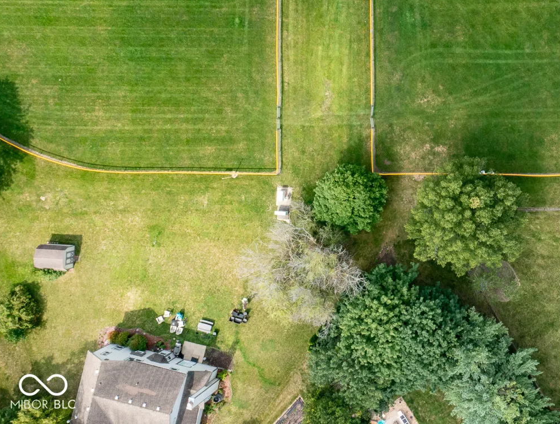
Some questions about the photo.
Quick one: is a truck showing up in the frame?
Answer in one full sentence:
No, I find no truck anywhere in the image.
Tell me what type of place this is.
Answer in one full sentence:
This looks like a sports ground.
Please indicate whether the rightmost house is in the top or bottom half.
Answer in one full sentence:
The rightmost house sits in the bottom half of the picture.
